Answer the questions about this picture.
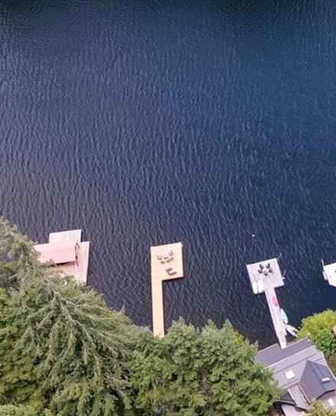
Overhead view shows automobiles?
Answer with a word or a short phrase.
No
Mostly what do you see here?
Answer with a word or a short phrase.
water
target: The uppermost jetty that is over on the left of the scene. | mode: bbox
[30,229,91,288]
